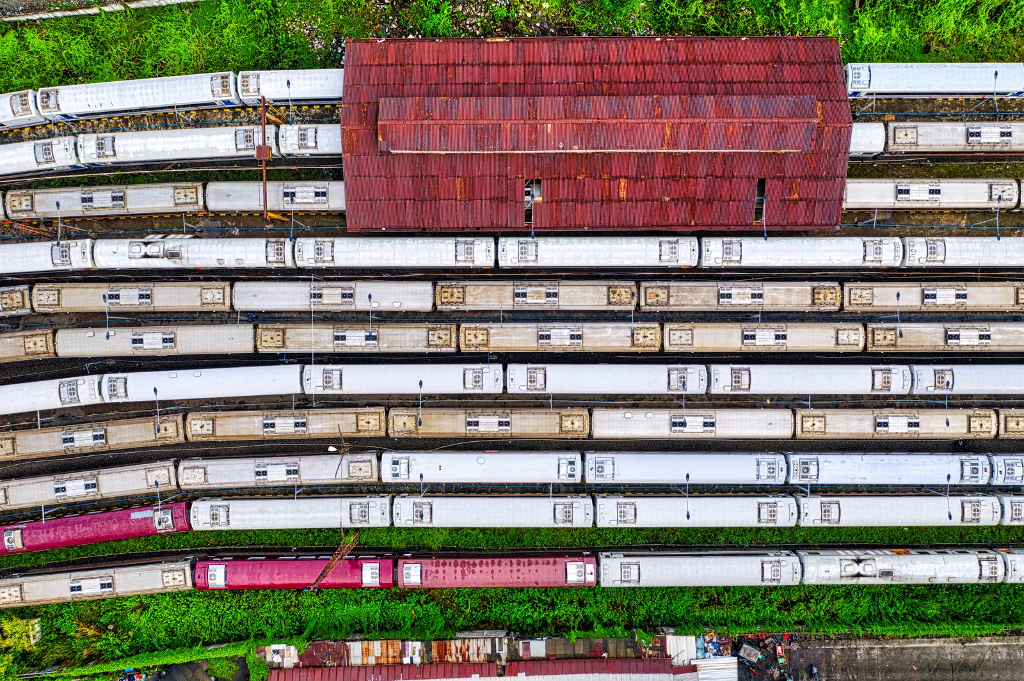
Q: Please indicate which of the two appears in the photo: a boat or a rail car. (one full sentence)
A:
Looking from above, you can make out a rail car.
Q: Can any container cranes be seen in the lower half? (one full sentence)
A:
No, in the lower half there is no container crane.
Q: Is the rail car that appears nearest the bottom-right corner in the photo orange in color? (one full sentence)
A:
No, from above the rail car that appears nearest the bottom-right corner looks white.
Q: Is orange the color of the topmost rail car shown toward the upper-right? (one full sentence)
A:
No, from above the topmost rail car shown toward the upper-right looks white.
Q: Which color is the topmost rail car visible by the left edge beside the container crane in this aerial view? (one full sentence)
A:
The topmost rail car visible by the left edge beside the container crane is white.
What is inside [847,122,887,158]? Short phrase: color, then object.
white rail car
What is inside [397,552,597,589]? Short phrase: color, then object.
pink rail car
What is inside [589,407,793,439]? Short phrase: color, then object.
white rail car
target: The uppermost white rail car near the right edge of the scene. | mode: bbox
[841,62,1024,100]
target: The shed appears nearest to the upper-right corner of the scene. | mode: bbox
[341,37,850,232]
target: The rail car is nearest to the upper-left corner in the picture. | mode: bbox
[0,89,51,133]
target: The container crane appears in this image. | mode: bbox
[255,97,290,226]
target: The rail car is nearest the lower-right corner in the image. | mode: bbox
[991,549,1024,584]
